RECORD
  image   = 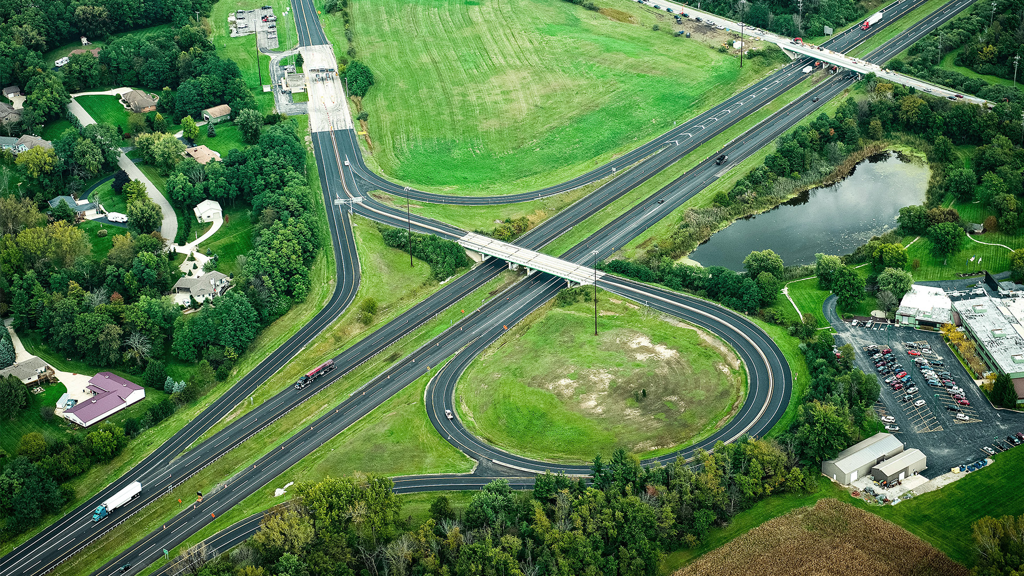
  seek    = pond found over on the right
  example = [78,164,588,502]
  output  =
[691,151,931,268]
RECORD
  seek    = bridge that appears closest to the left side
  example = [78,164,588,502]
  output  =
[455,229,606,283]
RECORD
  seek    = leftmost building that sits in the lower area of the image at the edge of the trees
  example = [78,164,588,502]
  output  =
[0,357,58,391]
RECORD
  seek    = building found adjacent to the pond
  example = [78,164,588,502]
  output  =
[895,265,1024,410]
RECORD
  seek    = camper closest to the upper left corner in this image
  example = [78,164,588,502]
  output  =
[53,55,70,67]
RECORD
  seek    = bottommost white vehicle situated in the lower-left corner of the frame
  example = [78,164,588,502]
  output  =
[92,480,140,519]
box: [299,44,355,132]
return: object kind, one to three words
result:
toll station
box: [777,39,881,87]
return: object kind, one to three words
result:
bridge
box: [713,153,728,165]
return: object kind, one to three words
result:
vehicle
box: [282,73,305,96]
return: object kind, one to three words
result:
building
